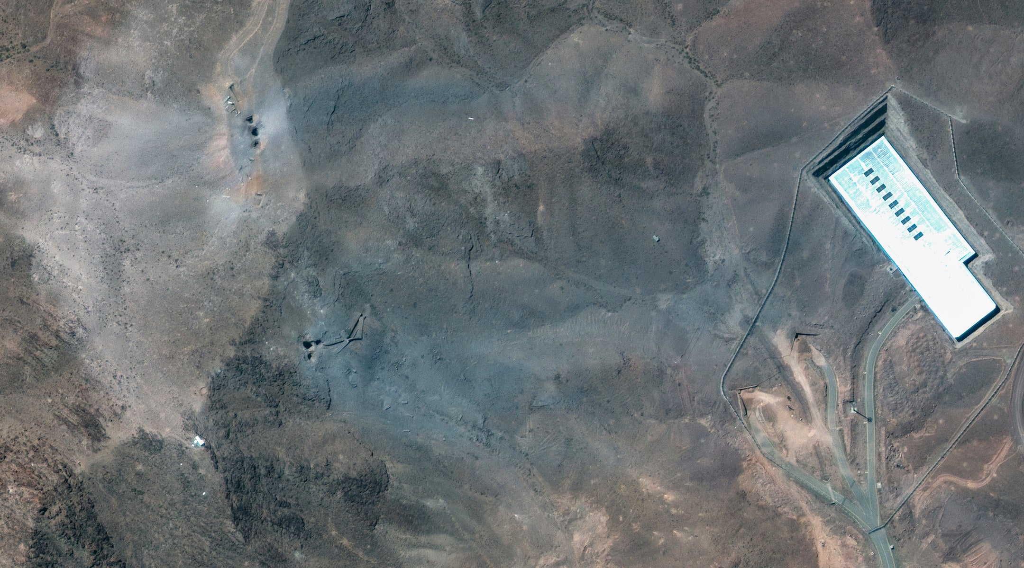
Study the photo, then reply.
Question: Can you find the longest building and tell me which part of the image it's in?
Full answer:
The longest building appears toward the right of the photo.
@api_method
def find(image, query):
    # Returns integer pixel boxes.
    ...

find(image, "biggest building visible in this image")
[828,135,996,340]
